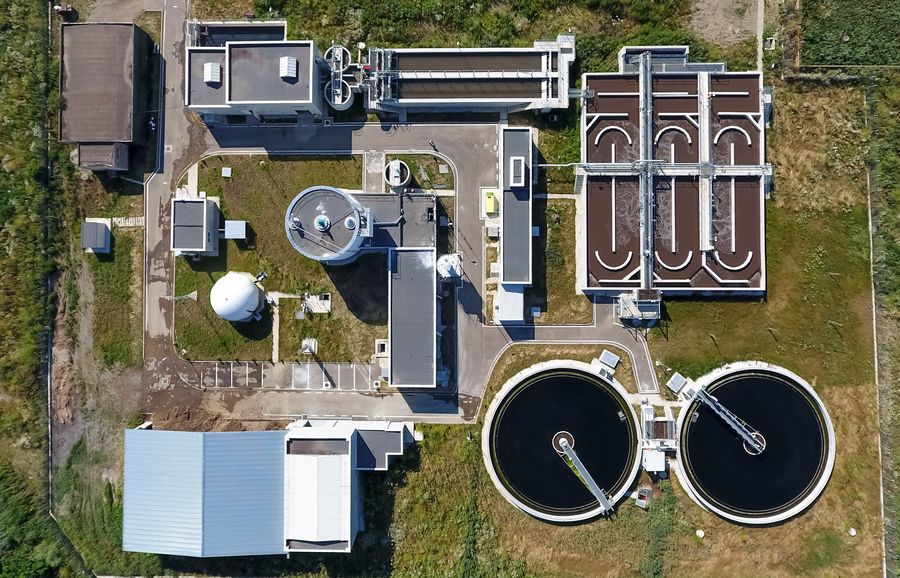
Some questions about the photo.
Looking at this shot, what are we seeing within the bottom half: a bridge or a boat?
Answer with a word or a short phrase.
bridge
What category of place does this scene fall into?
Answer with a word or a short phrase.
industrial area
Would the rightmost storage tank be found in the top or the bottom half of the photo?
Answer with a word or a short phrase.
bottom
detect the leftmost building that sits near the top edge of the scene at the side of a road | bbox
[61,23,149,148]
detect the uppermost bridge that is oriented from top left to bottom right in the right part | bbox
[693,385,766,456]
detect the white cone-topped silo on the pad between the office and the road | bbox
[437,252,463,287]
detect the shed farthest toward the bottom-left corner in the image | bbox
[123,418,295,558]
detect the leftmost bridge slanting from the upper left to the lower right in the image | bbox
[558,436,613,517]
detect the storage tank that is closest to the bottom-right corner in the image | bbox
[671,359,834,522]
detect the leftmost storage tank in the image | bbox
[208,269,267,322]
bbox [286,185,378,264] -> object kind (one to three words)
storage tank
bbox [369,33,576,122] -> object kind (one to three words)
storage tank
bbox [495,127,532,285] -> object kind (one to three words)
building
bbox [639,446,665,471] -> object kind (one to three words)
shed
